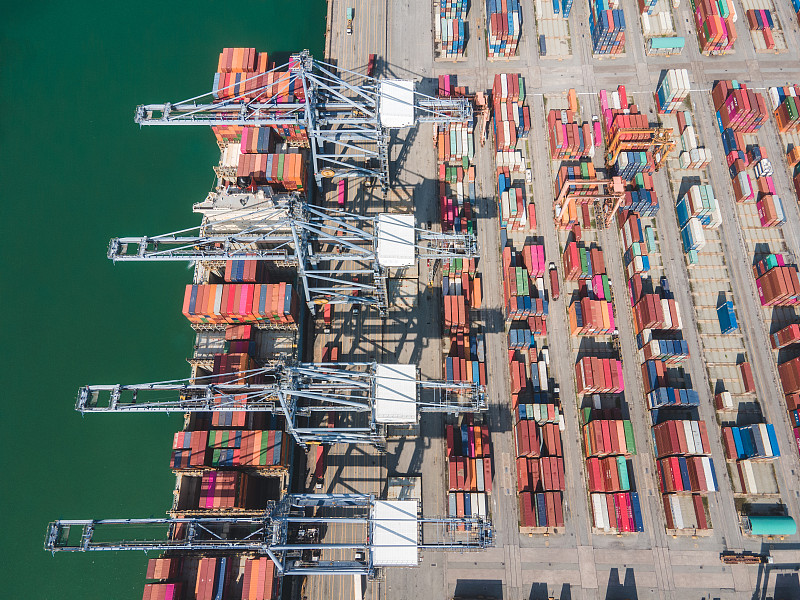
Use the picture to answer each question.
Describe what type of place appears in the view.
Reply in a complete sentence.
This looks like a port.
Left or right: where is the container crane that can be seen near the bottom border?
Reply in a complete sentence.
The container crane that can be seen near the bottom border appears in the left half of the scene.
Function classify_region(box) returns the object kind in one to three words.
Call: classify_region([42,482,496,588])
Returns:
container crane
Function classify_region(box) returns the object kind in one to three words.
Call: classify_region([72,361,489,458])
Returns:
container crane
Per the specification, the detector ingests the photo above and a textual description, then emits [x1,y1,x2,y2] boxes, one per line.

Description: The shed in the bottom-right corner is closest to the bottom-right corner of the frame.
[738,514,797,535]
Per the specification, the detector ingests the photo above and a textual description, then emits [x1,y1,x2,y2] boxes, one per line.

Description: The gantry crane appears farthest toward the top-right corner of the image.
[604,122,677,169]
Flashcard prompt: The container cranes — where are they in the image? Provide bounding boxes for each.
[42,482,496,588]
[431,92,488,141]
[134,48,473,202]
[604,122,677,169]
[72,361,489,458]
[104,195,481,324]
[552,177,623,223]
